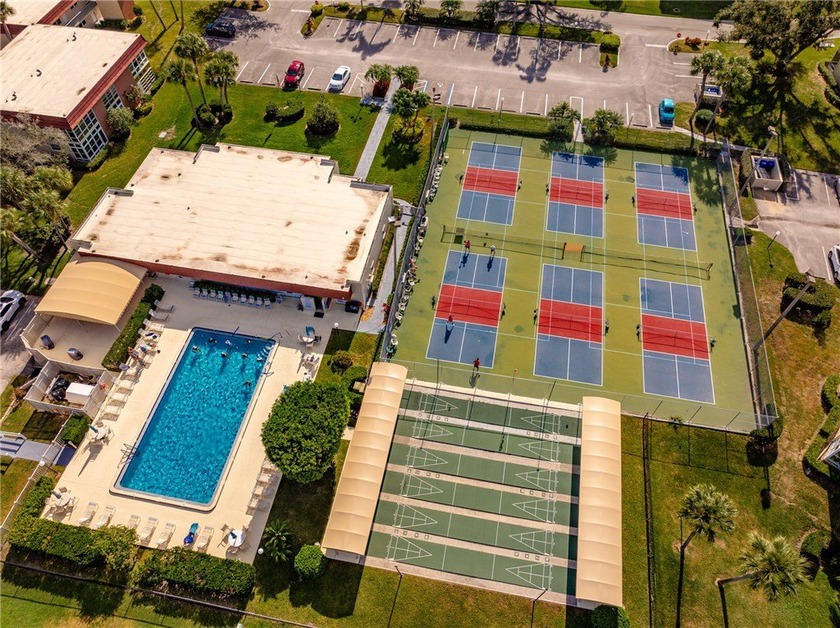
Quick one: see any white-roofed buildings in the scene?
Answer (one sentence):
Yes, there's a white-roofed building here.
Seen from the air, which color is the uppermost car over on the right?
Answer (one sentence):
The color of the uppermost car over on the right is blue.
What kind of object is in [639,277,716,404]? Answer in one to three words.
sports court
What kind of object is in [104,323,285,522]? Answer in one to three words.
swimming pool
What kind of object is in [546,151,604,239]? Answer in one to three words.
sports court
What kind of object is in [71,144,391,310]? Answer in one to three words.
building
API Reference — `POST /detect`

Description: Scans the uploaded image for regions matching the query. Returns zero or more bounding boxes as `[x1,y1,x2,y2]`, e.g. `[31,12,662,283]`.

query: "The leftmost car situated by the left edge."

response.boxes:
[0,284,29,325]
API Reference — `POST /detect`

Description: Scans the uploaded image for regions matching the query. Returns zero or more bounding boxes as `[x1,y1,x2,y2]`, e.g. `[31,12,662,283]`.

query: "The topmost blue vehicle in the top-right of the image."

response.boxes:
[657,102,677,125]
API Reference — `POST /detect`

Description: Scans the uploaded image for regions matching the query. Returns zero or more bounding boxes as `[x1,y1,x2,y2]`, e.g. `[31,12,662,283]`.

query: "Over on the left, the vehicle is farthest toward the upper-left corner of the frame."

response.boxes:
[203,20,237,39]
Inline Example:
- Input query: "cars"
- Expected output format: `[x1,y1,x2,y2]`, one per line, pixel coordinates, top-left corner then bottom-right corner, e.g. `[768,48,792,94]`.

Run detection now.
[0,284,29,325]
[825,245,840,279]
[203,20,237,39]
[330,69,351,93]
[283,65,305,88]
[657,102,677,125]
